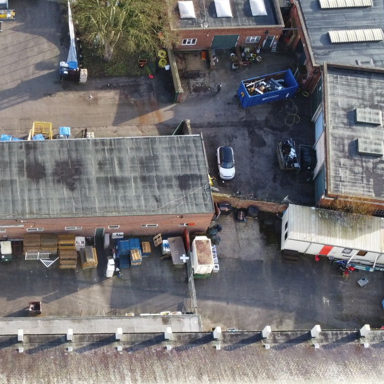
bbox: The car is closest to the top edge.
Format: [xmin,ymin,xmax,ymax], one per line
[216,150,237,182]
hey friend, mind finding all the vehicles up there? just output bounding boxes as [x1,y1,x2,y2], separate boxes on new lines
[216,150,237,182]
[0,239,12,269]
